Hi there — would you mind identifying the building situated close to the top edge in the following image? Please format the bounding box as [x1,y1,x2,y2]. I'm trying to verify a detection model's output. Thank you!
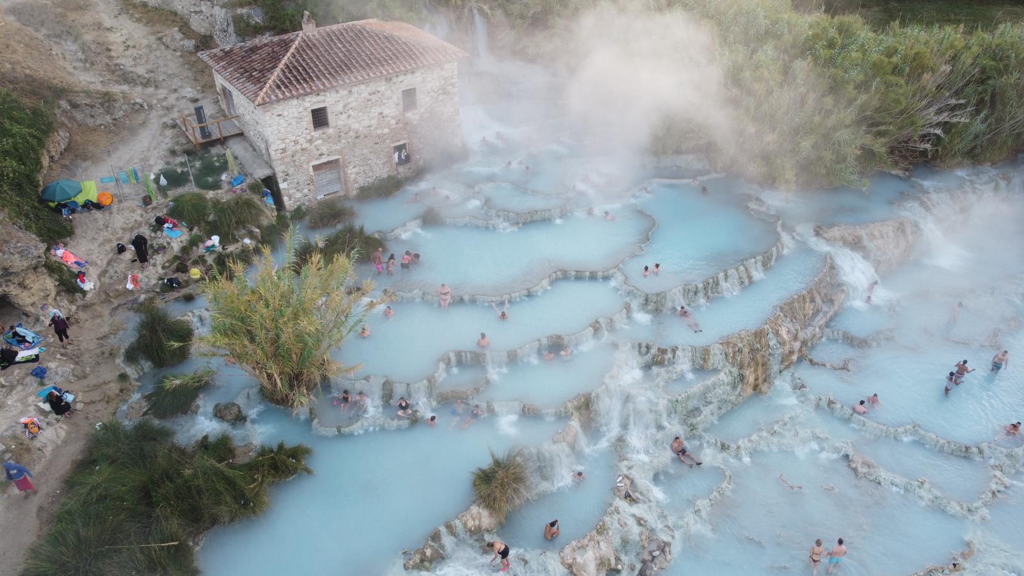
[185,16,470,211]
